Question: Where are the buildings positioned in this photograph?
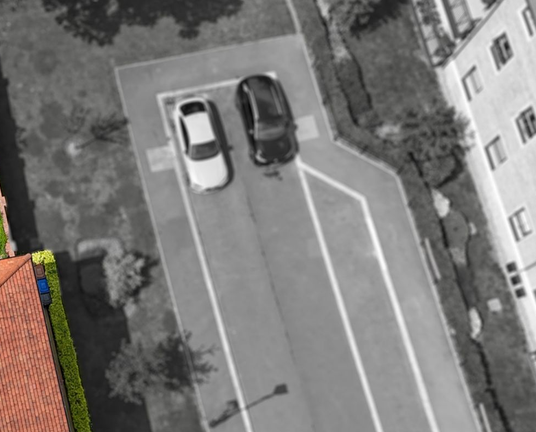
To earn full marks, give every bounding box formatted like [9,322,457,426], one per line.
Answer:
[416,0,536,322]
[0,253,70,432]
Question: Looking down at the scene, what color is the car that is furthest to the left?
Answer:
white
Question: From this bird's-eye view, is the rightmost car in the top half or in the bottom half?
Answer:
top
